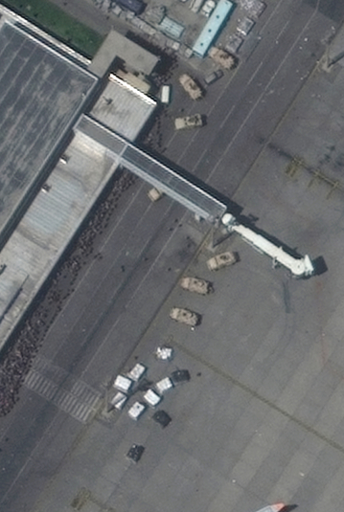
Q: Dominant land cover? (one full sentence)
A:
What you mostly see from above here is paved ground.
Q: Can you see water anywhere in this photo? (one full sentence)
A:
No, the picture contains no water.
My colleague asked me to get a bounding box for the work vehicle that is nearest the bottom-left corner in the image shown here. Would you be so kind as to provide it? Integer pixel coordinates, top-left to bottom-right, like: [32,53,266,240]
[126,445,144,464]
